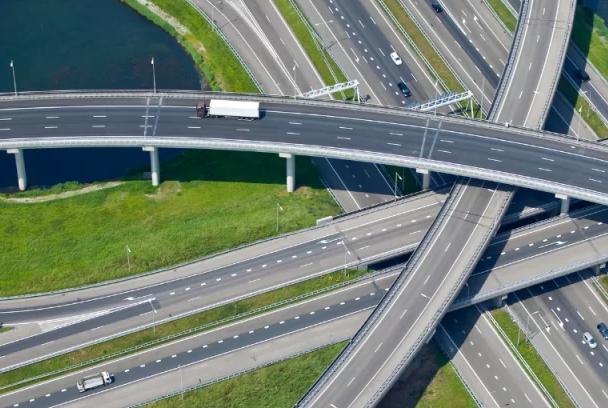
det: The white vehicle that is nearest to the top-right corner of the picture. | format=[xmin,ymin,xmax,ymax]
[390,52,402,65]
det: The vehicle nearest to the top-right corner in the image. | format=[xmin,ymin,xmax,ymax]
[578,70,592,82]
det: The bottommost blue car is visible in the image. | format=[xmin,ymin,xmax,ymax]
[596,323,608,339]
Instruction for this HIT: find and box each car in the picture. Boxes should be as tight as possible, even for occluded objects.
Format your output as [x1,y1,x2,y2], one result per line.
[596,323,608,339]
[390,52,402,65]
[578,70,592,82]
[582,332,597,347]
[397,81,410,94]
[431,3,444,14]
